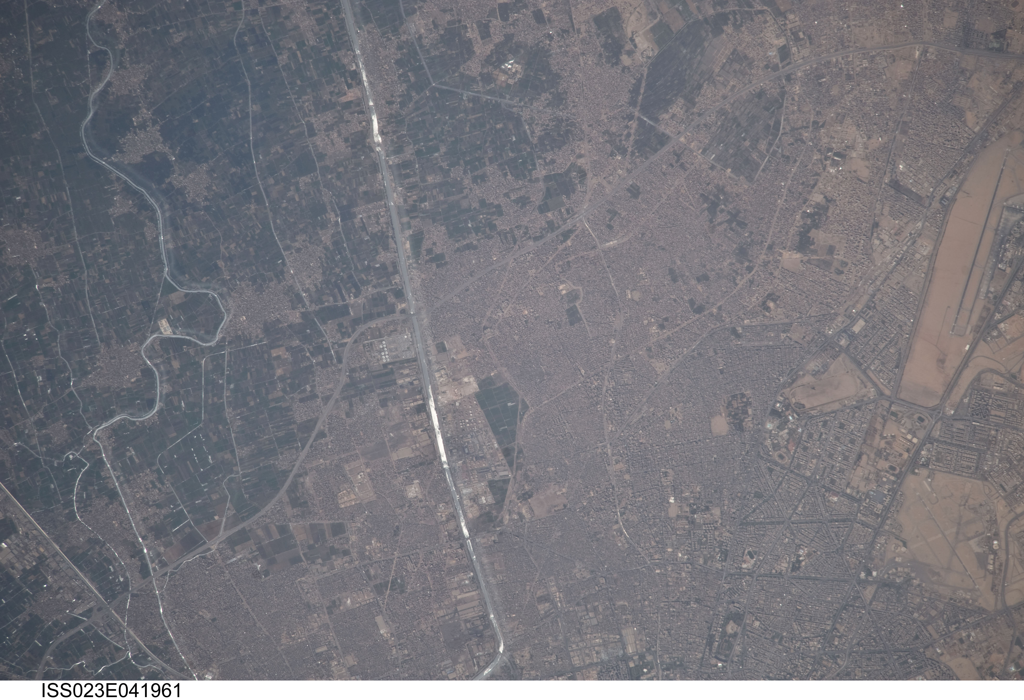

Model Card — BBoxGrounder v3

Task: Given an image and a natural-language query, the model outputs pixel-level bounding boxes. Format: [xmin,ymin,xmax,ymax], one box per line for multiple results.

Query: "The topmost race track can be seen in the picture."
[789,372,858,412]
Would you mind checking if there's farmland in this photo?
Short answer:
Yes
